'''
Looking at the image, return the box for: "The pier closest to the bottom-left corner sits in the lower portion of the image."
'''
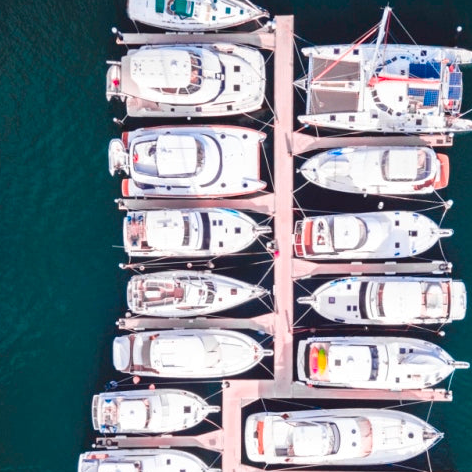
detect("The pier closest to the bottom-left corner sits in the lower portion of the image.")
[95,429,223,453]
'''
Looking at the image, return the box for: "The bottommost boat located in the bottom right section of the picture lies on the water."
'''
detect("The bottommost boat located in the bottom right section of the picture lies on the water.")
[245,398,447,472]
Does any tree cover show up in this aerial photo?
No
